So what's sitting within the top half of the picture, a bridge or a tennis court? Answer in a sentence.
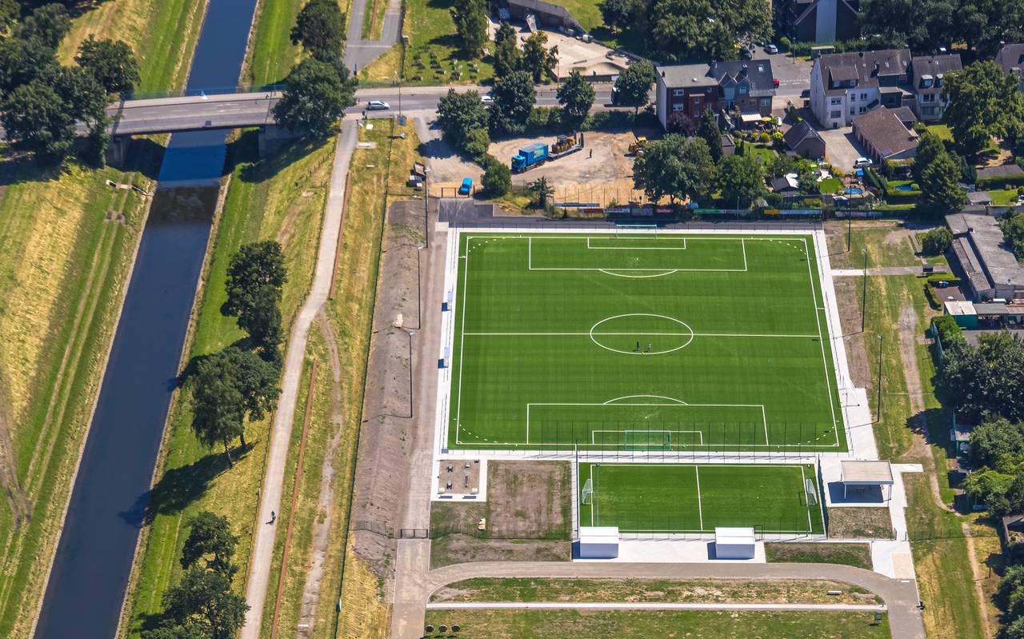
The feature located within the top half of the picture is a bridge.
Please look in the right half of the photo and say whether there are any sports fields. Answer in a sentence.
Yes, in the right half of the photo there is a sports field.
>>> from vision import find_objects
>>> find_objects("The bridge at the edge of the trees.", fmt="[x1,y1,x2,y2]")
[72,82,295,164]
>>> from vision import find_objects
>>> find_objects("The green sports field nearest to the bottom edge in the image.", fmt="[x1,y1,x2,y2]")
[579,463,825,535]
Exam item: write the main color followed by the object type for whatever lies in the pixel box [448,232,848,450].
green soccer field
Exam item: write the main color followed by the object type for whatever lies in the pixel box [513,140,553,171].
blue truck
